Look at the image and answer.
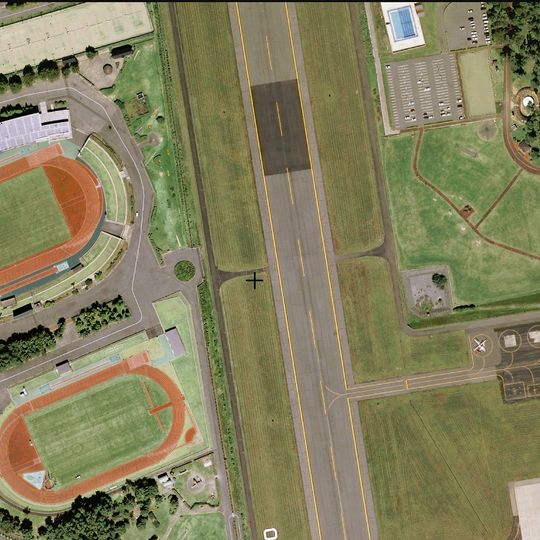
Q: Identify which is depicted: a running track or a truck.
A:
running track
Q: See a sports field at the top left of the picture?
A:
Yes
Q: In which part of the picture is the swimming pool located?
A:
top right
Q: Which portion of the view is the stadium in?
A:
left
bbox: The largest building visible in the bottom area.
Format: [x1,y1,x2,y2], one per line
[166,327,185,357]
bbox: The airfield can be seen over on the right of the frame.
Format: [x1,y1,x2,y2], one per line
[227,0,540,540]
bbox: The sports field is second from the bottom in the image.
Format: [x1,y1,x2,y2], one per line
[0,166,71,266]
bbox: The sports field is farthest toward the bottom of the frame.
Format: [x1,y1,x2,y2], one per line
[26,374,172,489]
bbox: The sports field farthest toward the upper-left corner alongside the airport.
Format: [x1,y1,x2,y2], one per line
[0,0,153,74]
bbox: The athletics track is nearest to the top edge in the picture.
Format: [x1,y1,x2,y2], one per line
[0,143,103,294]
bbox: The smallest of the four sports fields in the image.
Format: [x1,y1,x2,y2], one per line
[458,49,496,119]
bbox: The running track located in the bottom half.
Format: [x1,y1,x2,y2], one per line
[0,352,202,503]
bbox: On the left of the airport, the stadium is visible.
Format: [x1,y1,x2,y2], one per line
[0,102,134,326]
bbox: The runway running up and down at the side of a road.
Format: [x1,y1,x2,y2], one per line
[236,0,371,540]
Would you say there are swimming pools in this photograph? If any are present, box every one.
[381,0,425,52]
